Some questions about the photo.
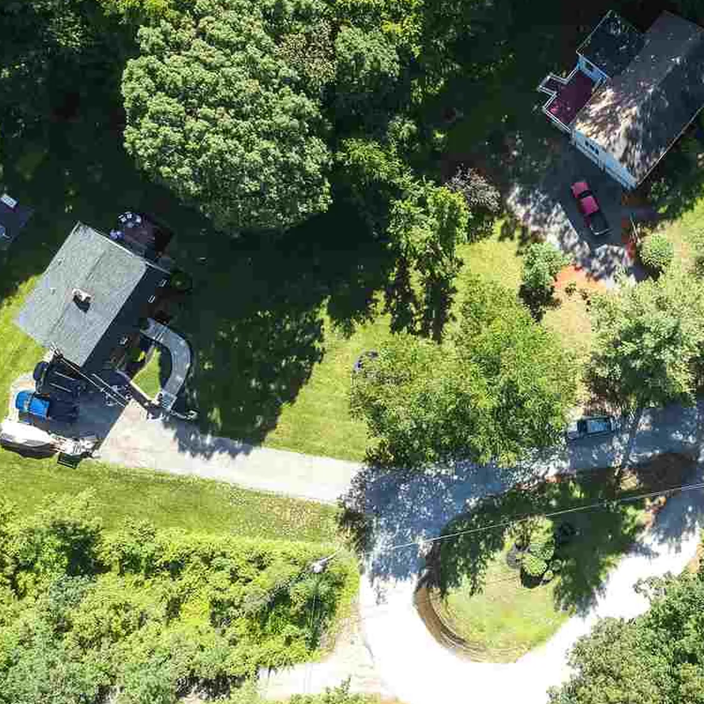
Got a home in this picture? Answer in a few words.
Yes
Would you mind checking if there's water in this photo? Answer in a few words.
No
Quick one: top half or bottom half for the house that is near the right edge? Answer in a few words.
top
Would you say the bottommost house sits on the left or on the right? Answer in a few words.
left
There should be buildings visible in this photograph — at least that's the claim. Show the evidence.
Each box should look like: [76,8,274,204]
[539,8,704,189]
[13,221,169,368]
